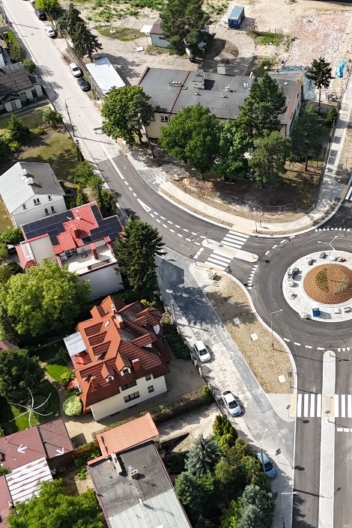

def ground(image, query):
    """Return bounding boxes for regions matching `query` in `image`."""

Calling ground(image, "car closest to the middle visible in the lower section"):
[193,340,213,364]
